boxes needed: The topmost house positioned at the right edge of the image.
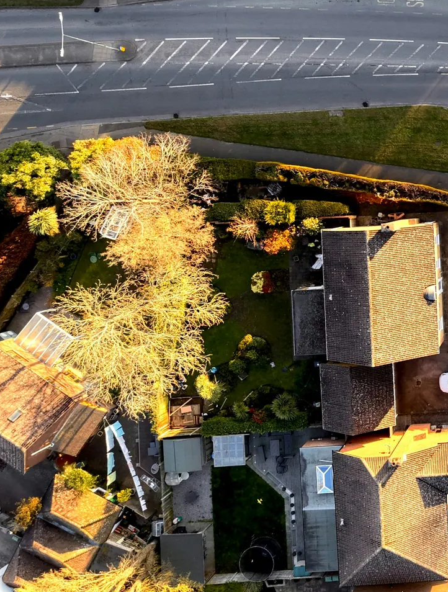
[320,215,445,365]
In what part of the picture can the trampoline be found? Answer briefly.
bottom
